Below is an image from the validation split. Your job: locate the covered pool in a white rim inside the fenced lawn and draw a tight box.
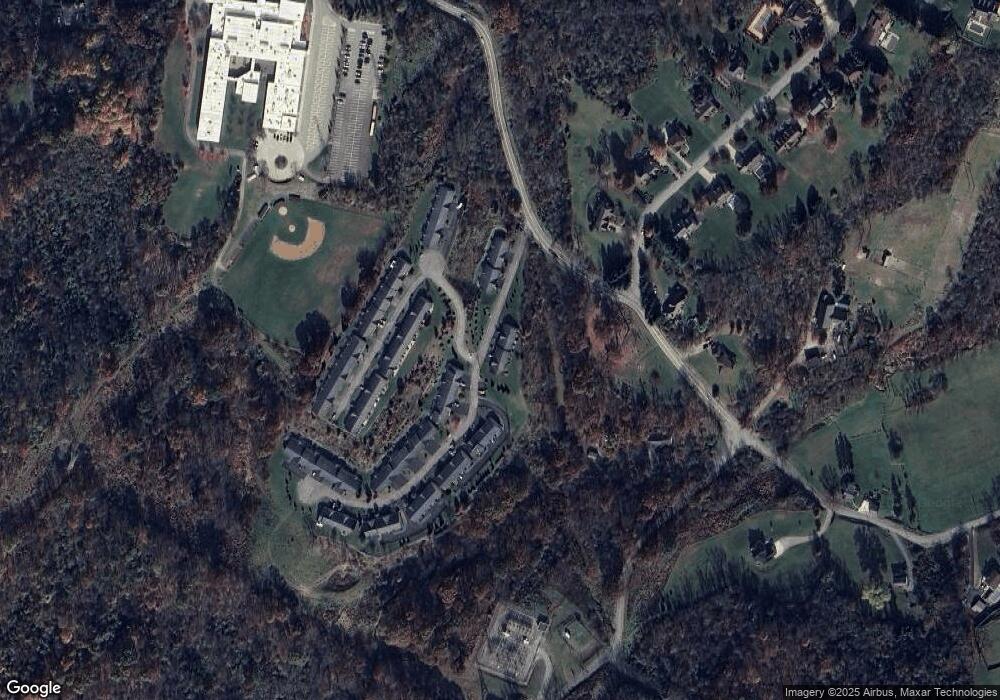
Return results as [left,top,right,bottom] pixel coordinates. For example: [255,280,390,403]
[967,19,987,35]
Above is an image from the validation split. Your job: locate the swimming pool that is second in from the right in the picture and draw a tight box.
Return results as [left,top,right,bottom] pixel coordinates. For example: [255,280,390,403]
[881,33,899,53]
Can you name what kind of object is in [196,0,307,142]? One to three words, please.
building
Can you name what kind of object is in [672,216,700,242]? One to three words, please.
house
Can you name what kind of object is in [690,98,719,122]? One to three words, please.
house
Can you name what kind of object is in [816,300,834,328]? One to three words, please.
building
